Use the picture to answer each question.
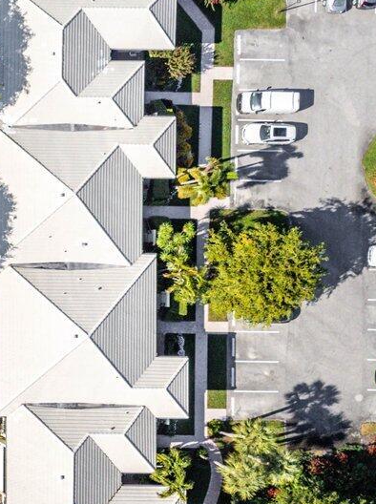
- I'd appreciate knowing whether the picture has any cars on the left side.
No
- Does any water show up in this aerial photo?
No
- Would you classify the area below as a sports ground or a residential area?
residential area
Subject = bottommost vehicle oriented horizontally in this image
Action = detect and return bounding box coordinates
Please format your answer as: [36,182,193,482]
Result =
[241,119,300,146]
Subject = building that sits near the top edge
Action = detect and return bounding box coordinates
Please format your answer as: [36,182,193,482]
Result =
[0,0,178,128]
